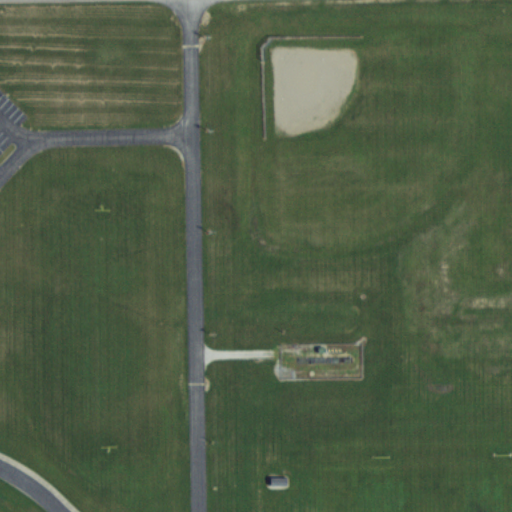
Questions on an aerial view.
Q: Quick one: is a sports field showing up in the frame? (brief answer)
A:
Yes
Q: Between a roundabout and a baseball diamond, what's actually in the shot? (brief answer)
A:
baseball diamond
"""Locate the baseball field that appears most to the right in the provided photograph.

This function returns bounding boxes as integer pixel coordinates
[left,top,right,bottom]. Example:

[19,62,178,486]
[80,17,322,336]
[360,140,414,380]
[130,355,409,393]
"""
[267,44,483,258]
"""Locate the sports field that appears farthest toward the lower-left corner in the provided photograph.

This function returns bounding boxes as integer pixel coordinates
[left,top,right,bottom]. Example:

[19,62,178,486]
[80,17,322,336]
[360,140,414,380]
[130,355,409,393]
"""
[50,211,162,447]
